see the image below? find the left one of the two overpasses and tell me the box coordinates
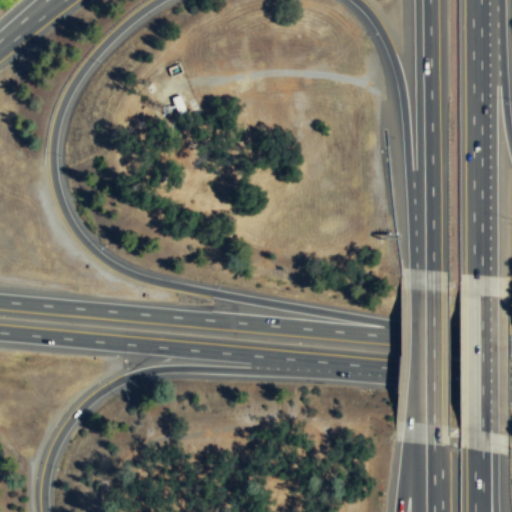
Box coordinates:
[396,270,450,446]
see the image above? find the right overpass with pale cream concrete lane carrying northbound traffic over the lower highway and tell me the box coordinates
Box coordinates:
[460,274,510,456]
